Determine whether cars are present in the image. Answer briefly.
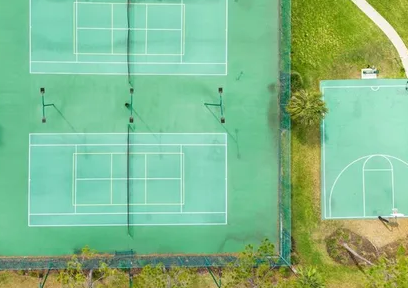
No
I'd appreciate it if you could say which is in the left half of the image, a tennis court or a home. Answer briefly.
tennis court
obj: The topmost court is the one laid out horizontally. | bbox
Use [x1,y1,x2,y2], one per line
[30,0,227,75]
